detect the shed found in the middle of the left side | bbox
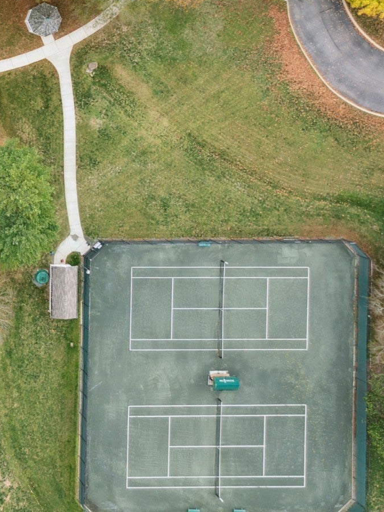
[47,263,78,320]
